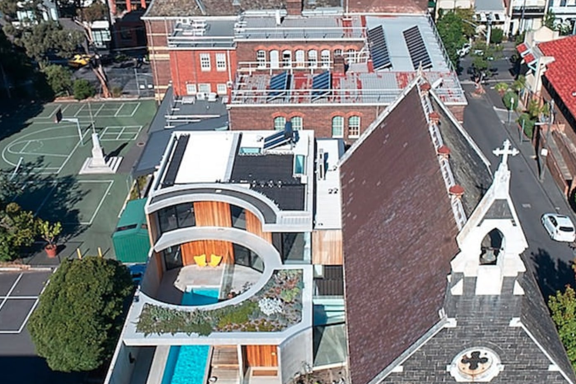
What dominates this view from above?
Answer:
buildings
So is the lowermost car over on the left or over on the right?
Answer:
right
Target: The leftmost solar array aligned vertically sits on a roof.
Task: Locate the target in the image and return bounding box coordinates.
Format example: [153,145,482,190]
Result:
[369,26,392,69]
